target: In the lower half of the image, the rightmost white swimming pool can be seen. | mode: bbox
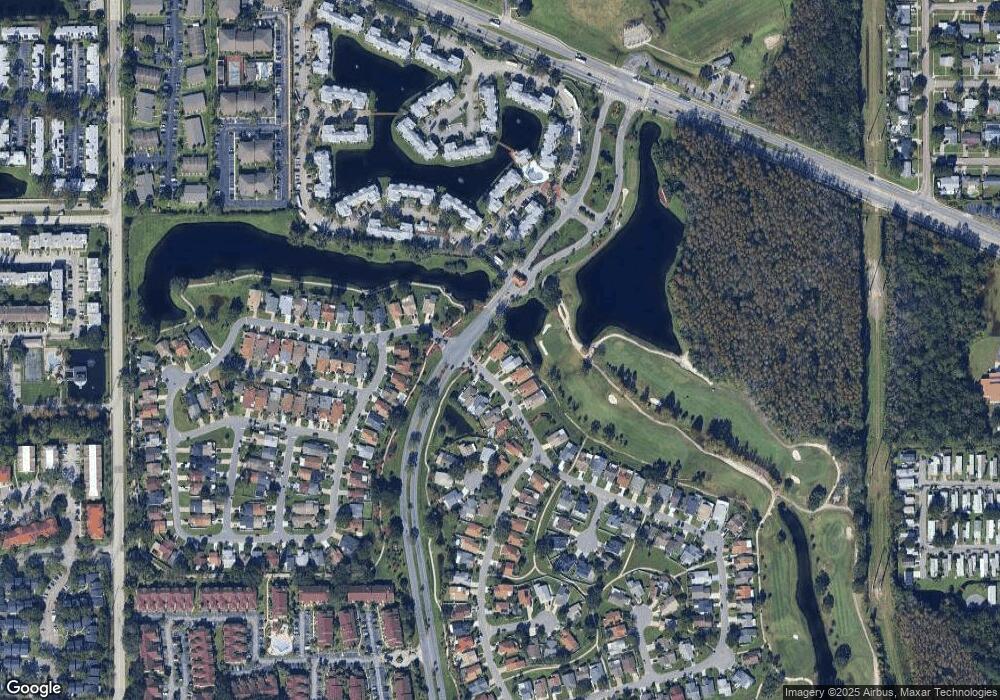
[269,635,294,654]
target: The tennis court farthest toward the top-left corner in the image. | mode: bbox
[226,59,243,87]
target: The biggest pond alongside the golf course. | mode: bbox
[334,37,541,205]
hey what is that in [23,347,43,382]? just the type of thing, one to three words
tennis court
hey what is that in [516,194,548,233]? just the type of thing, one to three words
building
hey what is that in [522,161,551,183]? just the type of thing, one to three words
swimming pool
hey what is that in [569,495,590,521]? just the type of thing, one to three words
house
